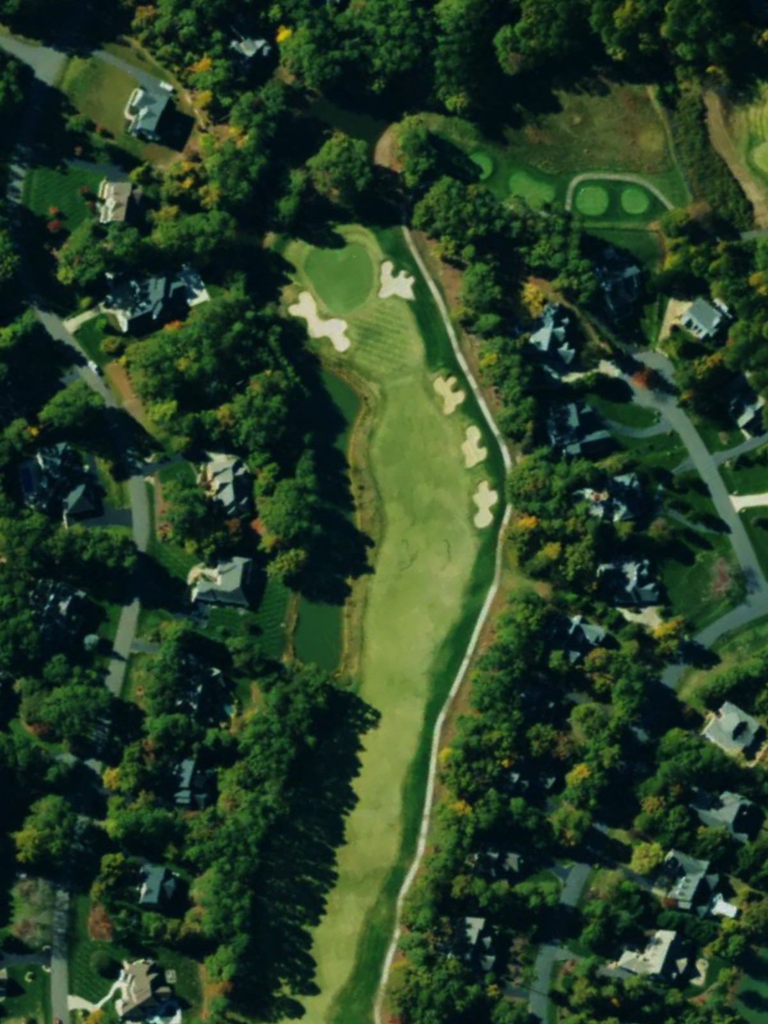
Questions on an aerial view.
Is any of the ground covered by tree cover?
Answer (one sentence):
Yes, some tree cover is visible.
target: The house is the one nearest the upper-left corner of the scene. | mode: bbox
[135,88,173,141]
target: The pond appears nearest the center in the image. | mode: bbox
[295,366,360,671]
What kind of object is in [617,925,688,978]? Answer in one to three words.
house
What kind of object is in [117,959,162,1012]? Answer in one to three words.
house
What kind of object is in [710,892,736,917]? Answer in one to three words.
building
